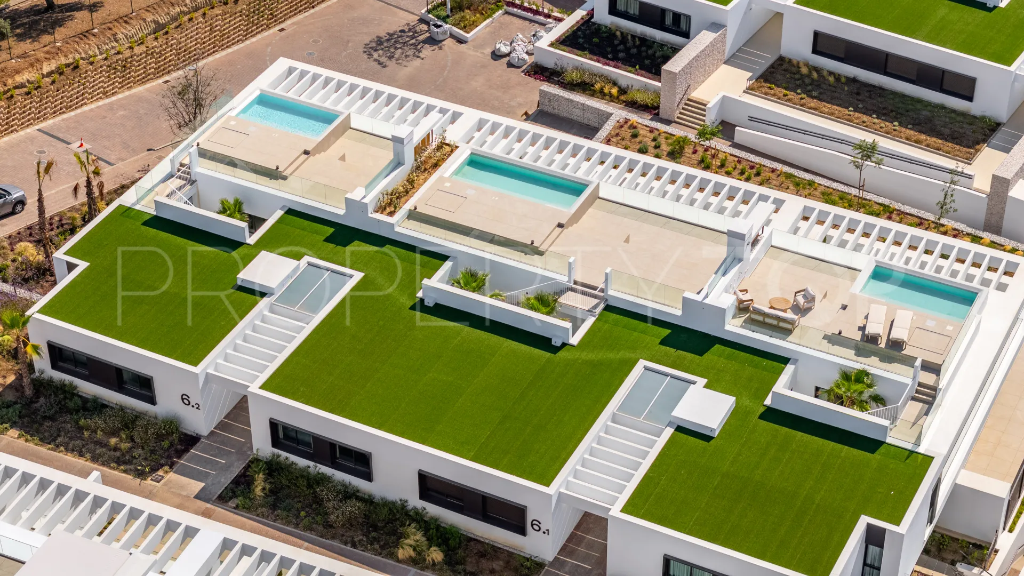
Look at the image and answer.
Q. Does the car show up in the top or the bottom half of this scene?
top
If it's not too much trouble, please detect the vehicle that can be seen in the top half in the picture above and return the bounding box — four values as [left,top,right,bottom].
[0,175,28,216]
